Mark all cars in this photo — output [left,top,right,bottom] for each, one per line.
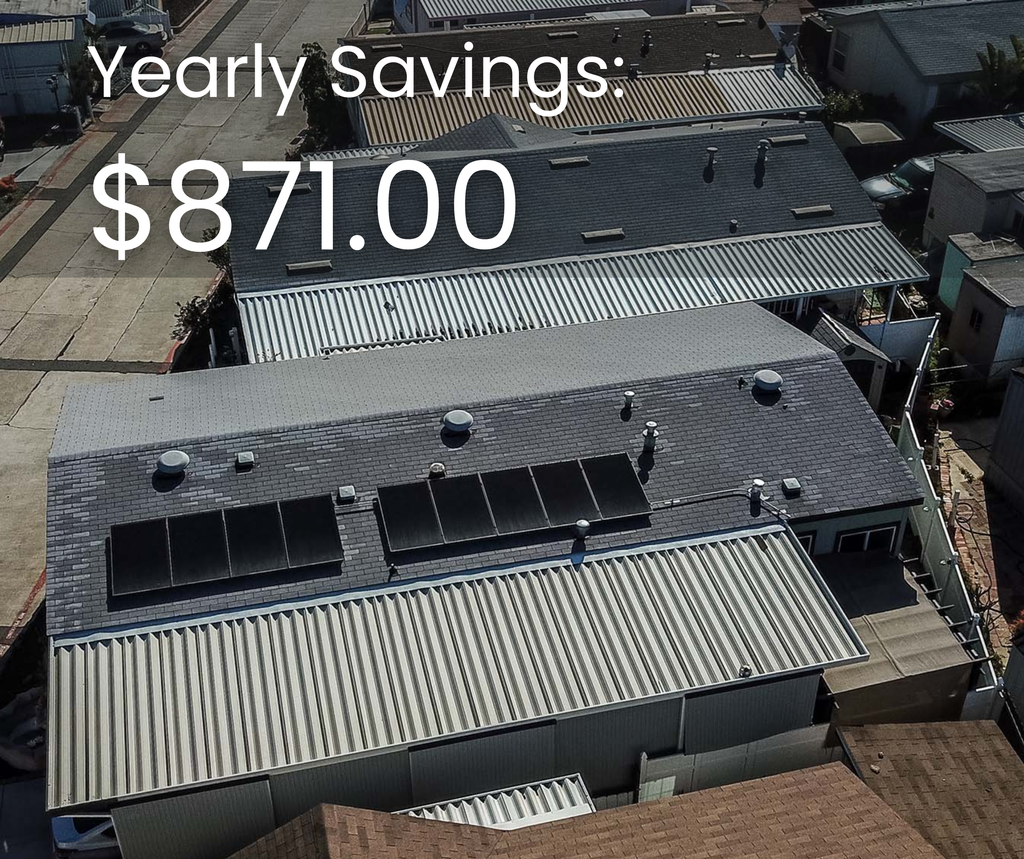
[858,152,966,222]
[53,757,318,859]
[84,7,179,48]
